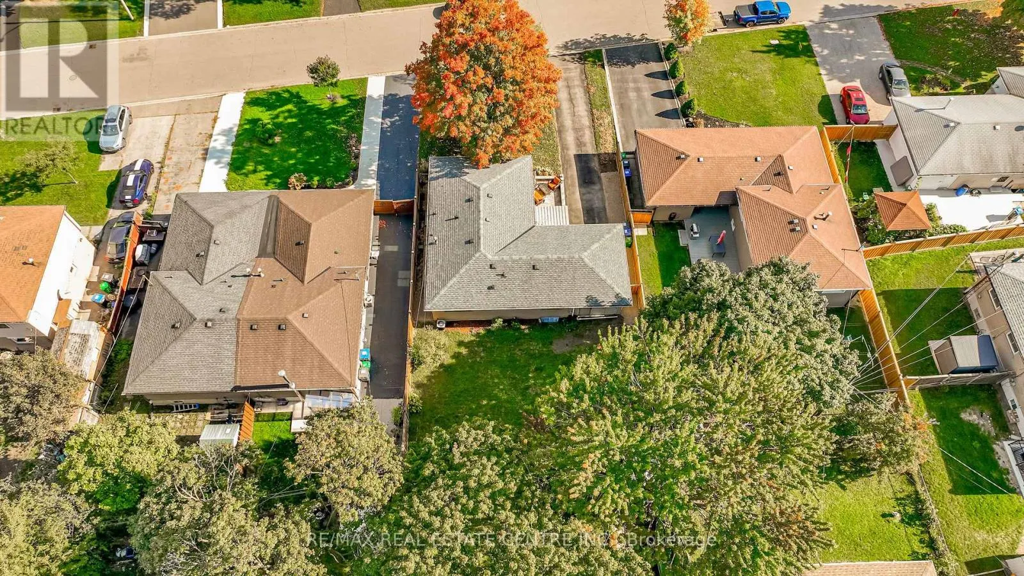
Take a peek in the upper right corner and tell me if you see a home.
Yes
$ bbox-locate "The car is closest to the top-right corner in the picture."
[875,58,915,109]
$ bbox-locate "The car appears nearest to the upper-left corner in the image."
[92,97,133,154]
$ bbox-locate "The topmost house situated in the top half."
[885,66,1024,192]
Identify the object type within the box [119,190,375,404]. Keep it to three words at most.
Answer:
house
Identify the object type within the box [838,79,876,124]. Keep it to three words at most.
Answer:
car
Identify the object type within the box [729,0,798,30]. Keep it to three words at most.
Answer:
truck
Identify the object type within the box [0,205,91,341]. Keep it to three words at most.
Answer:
house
